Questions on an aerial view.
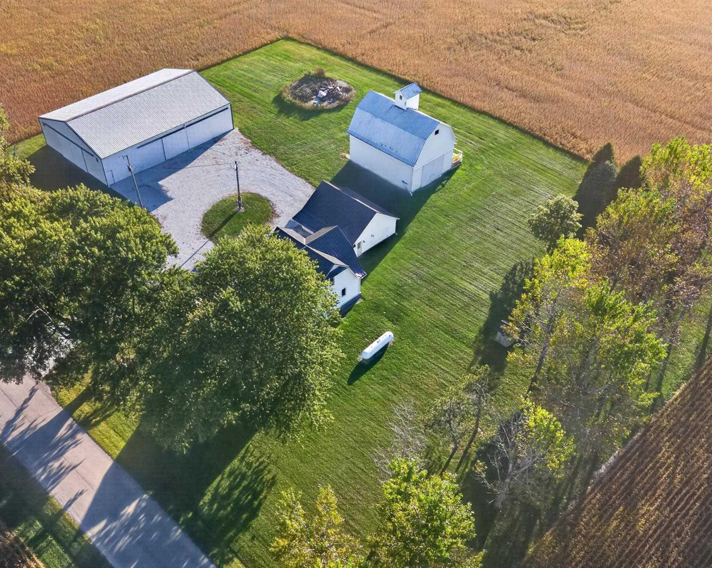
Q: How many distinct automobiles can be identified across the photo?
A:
none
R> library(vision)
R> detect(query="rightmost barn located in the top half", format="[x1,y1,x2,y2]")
[344,83,457,193]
